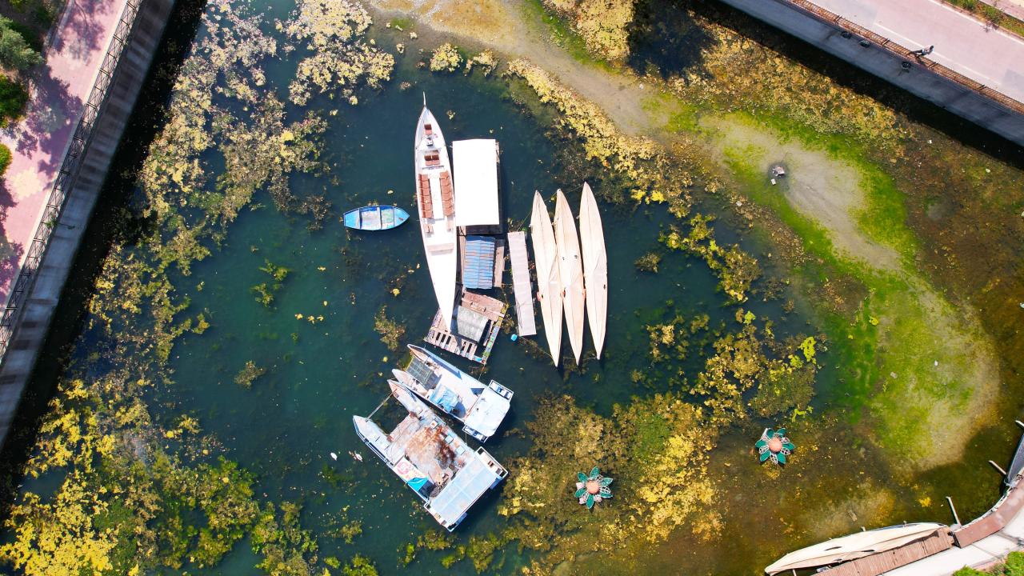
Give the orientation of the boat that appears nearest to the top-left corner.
from side to side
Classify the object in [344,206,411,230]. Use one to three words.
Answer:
boat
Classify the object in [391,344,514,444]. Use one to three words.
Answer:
boat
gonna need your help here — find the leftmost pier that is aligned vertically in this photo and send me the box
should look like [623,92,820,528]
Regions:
[507,232,537,335]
